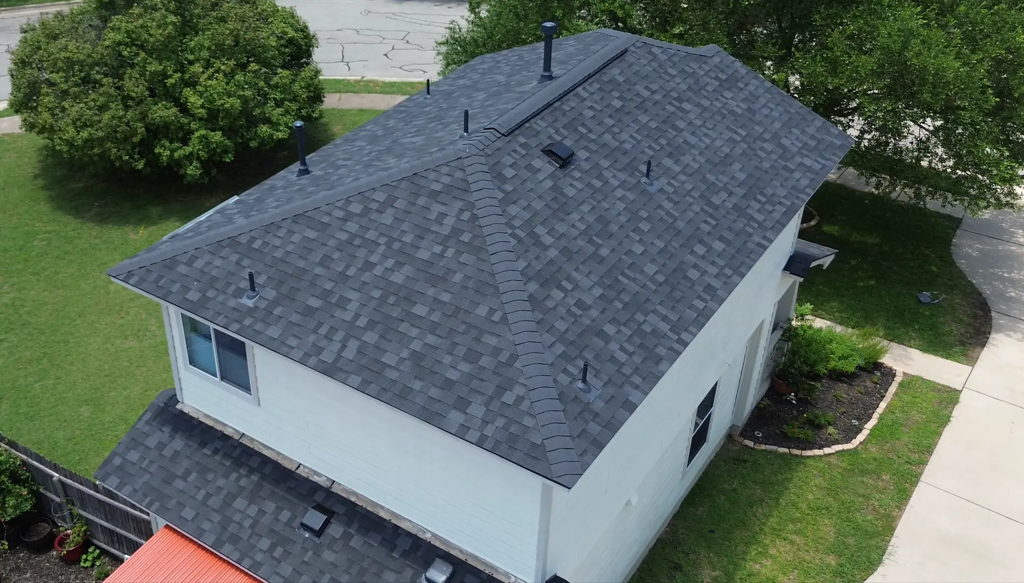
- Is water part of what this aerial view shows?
No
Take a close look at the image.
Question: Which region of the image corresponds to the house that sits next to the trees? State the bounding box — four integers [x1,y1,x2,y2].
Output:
[92,20,854,583]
